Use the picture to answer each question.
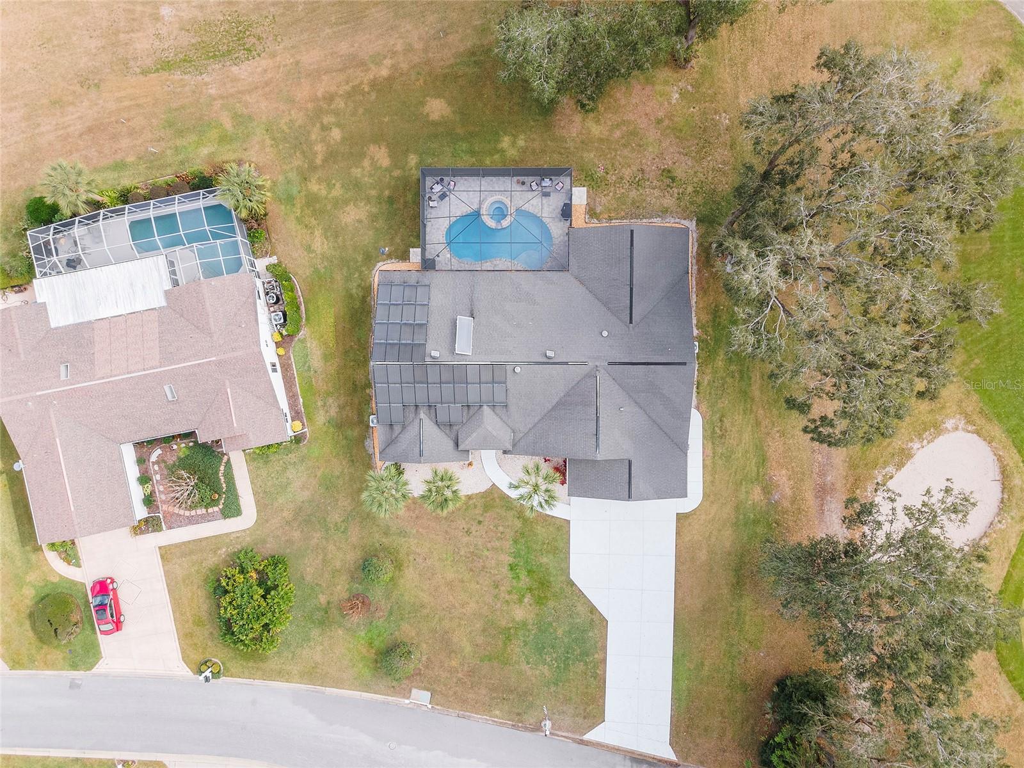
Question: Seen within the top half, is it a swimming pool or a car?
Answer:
swimming pool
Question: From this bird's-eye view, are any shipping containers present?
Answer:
No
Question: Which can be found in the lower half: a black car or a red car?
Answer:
red car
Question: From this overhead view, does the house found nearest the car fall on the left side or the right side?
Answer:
left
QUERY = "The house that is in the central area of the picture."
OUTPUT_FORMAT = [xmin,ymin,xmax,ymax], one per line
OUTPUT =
[370,223,696,501]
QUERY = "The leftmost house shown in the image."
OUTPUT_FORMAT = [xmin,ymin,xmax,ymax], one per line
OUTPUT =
[0,252,293,544]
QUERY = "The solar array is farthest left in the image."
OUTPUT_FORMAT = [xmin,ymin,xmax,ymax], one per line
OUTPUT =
[95,316,160,379]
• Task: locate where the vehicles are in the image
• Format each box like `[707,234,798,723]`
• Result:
[90,576,126,637]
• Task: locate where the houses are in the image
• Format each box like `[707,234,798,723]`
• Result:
[0,252,293,544]
[370,223,696,501]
